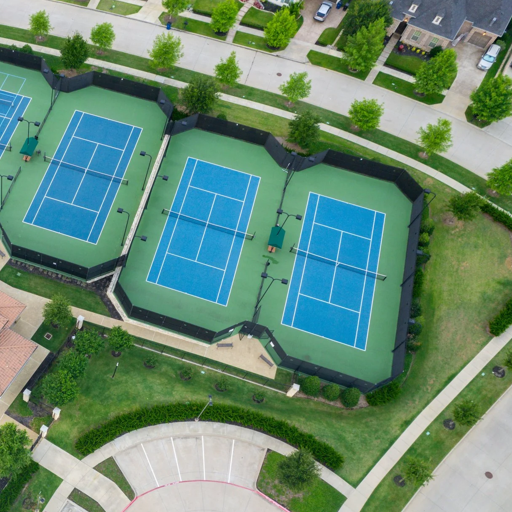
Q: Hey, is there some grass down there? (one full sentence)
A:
Yes, some grass is visible.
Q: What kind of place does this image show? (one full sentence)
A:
The area seen from above is a sports ground.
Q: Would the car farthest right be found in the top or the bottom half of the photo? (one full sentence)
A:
You can find the car farthest right in the top half.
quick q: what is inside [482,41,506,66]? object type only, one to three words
car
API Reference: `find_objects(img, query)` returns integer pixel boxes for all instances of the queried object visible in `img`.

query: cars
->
[316,0,333,20]
[482,41,506,66]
